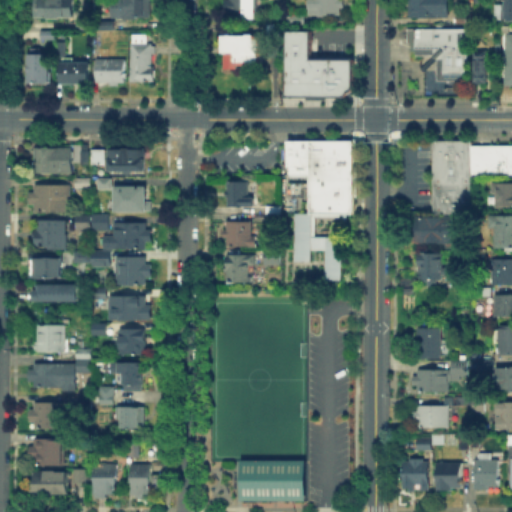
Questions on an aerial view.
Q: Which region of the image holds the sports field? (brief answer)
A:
bottom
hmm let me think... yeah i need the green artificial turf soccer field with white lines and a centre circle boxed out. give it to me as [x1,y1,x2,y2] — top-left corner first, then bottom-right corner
[213,298,308,460]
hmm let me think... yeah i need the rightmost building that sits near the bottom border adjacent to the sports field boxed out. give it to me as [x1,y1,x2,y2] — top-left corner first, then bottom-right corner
[238,461,304,502]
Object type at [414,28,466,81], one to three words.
building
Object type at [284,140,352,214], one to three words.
building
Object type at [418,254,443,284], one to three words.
house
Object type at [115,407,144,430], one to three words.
house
